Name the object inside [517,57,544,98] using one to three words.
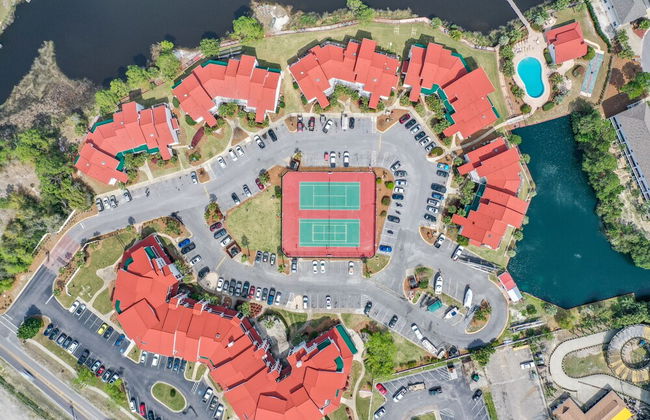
swimming pool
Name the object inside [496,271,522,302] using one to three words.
shed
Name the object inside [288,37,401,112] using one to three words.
building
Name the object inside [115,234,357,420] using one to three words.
building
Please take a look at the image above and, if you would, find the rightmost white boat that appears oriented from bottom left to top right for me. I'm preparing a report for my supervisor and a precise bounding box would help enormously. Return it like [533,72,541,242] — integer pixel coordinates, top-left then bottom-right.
[444,305,461,320]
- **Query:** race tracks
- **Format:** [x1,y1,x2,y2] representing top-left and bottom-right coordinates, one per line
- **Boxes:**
[550,324,650,404]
